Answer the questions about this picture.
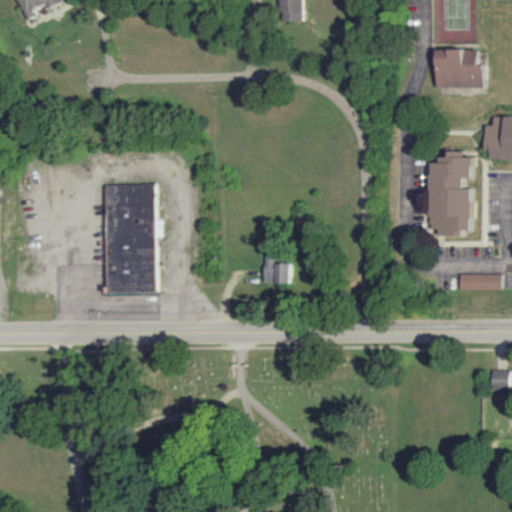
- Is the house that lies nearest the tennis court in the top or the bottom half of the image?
top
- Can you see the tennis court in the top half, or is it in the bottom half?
top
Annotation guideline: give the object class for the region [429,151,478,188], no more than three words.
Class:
building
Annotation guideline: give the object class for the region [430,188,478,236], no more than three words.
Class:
building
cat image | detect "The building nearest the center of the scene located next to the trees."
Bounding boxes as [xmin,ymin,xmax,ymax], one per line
[264,257,292,284]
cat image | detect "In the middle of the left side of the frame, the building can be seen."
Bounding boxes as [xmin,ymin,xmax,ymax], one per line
[104,182,166,294]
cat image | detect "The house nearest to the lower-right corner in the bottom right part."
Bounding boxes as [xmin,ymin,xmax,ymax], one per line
[490,370,511,389]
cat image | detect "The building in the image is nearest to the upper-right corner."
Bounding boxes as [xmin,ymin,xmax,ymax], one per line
[432,50,490,88]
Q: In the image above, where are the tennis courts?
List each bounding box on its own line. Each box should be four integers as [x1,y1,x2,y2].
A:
[436,0,477,44]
